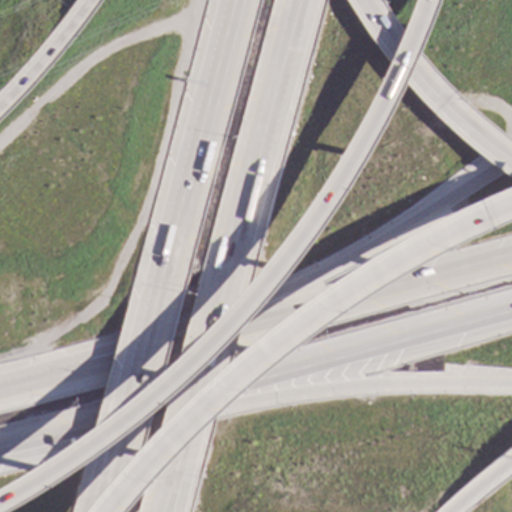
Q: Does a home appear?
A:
No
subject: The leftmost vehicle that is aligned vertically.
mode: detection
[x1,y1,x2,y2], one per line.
[160,224,176,266]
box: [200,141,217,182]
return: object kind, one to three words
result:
vehicle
